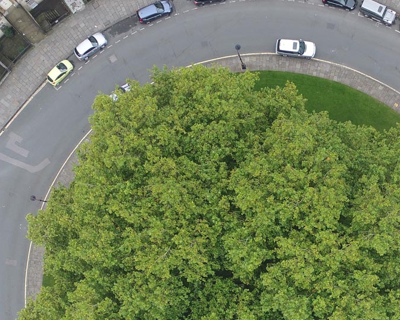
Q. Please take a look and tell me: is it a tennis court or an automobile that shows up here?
automobile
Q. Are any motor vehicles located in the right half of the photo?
Yes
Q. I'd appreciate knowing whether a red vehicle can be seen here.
No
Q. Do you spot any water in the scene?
No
